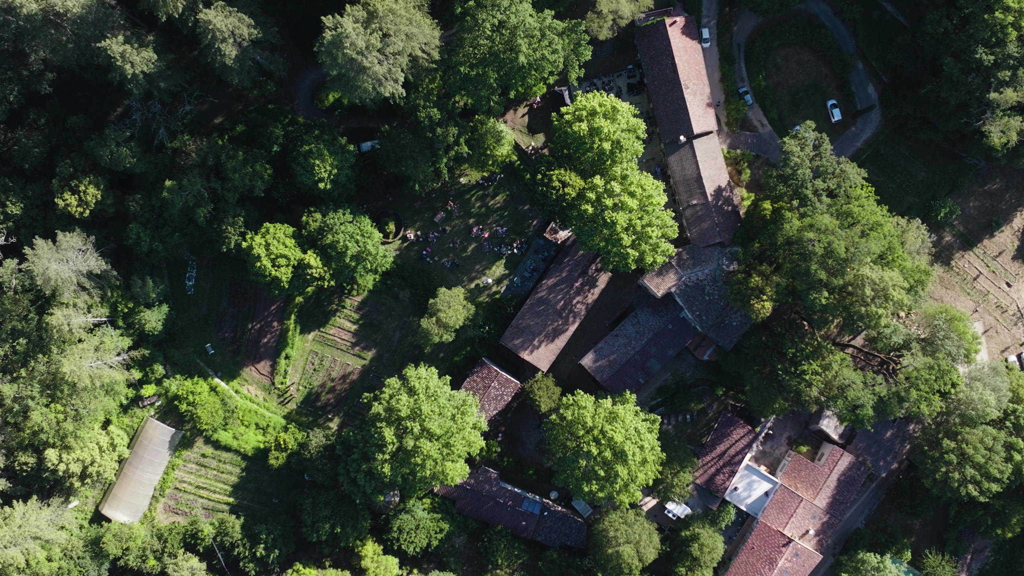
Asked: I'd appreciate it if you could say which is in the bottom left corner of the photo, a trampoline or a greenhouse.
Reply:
greenhouse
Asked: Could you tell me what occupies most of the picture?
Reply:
trees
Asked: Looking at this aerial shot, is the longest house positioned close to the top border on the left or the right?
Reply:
right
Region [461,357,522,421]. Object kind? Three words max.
house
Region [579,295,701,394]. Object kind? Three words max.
barn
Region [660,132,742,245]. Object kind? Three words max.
house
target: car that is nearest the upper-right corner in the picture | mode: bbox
[828,98,843,123]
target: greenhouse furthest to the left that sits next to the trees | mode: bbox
[96,416,182,524]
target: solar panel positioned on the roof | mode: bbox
[521,496,543,515]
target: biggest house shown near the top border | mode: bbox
[632,15,719,147]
